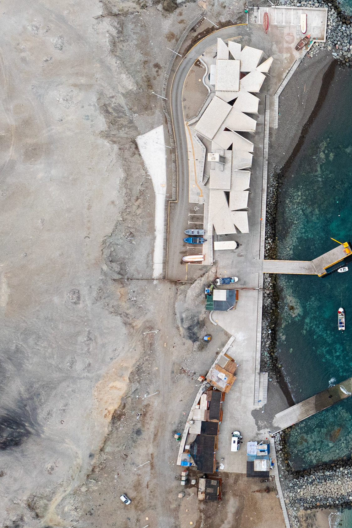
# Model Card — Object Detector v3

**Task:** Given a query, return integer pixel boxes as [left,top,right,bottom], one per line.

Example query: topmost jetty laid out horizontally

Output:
[263,241,352,278]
